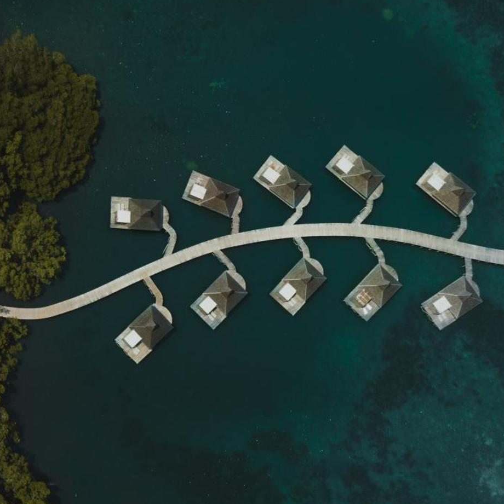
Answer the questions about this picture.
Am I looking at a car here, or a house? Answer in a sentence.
It is a house that can be seen here.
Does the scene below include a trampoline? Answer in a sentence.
No, I find no trampoline anywhere in the image.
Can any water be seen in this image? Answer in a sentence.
Yes, water can be seen from above here.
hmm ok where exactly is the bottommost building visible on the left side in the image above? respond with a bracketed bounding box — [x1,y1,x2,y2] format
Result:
[114,303,174,363]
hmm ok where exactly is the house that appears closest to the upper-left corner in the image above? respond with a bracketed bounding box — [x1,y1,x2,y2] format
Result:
[109,197,171,231]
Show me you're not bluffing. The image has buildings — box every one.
[189,270,248,329]
[323,144,386,201]
[342,262,402,321]
[413,162,477,218]
[419,276,484,330]
[114,303,174,363]
[181,170,242,218]
[269,256,327,315]
[109,197,171,231]
[251,154,312,210]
